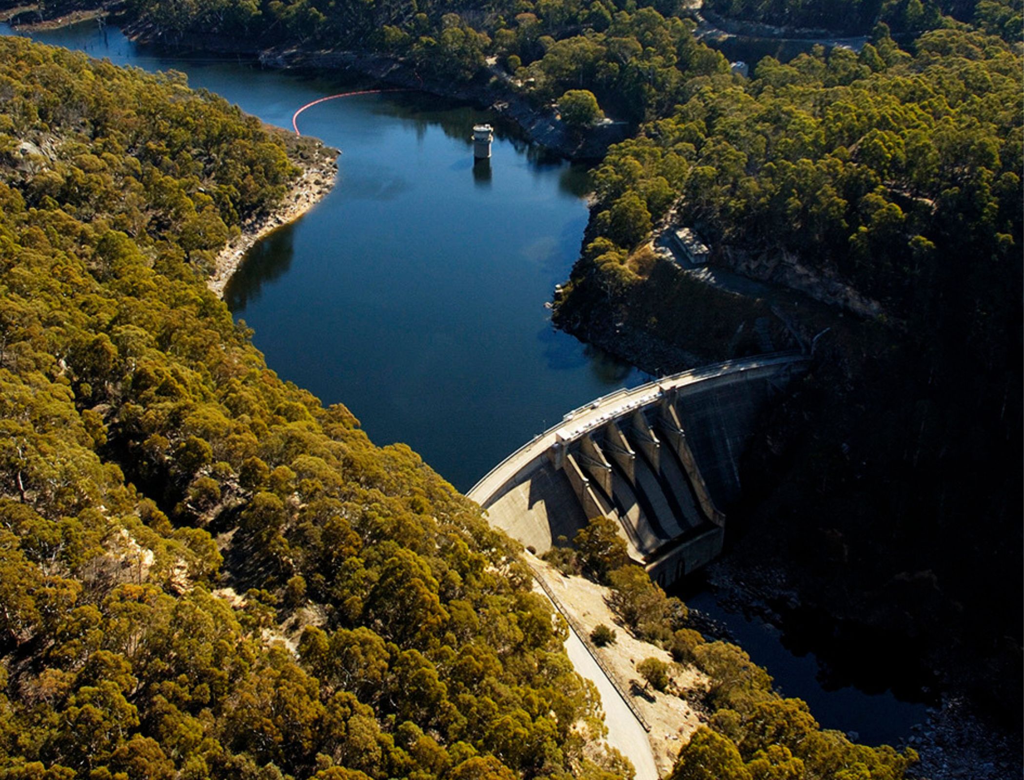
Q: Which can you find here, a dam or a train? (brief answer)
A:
dam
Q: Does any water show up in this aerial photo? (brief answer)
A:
Yes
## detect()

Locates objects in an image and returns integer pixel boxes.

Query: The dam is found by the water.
[468,345,817,590]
